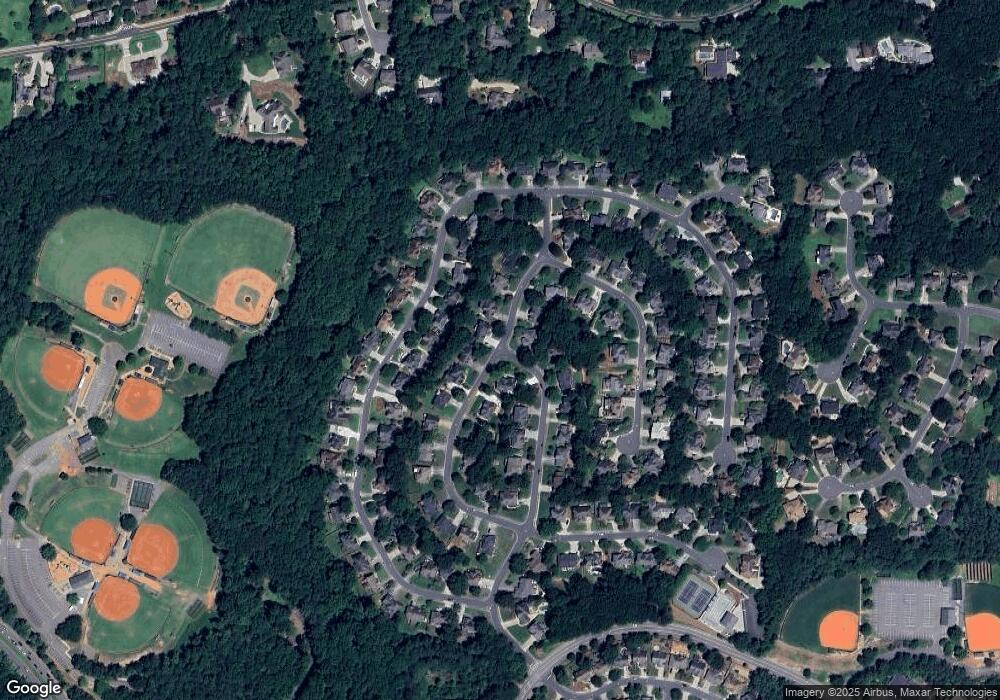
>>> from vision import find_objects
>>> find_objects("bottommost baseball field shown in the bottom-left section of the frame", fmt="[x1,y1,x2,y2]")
[90,576,172,660]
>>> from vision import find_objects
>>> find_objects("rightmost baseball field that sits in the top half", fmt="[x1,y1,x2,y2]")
[165,205,295,326]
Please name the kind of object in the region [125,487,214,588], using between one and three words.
baseball field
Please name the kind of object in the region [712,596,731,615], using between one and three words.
swimming pool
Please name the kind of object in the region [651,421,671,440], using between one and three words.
house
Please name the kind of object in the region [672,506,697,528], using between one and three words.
house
